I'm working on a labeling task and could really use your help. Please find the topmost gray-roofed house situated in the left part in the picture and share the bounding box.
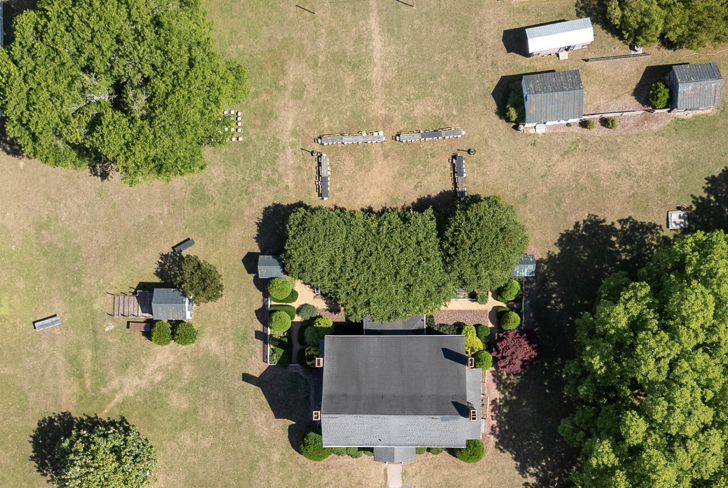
[258,255,283,279]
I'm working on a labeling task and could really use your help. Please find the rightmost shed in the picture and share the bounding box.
[663,61,725,117]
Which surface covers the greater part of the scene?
grass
